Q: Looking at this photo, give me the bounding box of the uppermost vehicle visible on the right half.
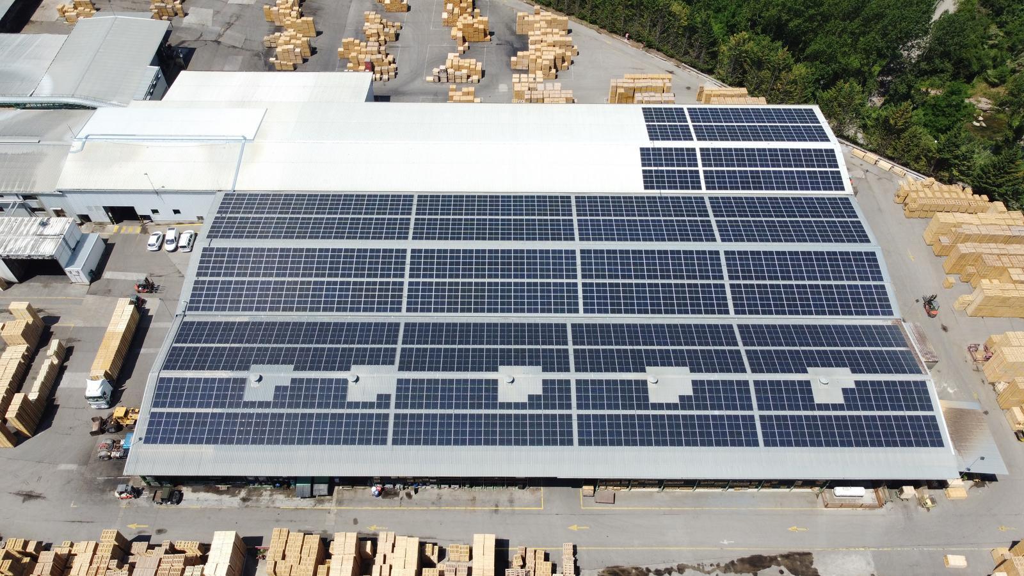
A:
[923,292,947,318]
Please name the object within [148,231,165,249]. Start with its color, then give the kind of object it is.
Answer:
white car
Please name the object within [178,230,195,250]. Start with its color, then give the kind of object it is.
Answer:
white car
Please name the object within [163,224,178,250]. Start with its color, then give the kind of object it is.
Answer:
white vehicle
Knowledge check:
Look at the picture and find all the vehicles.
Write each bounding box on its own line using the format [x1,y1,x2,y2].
[178,230,195,250]
[131,275,160,293]
[147,487,184,508]
[78,299,142,407]
[163,224,178,250]
[136,290,152,307]
[109,482,145,500]
[92,409,138,435]
[94,432,135,459]
[148,231,165,249]
[923,292,947,318]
